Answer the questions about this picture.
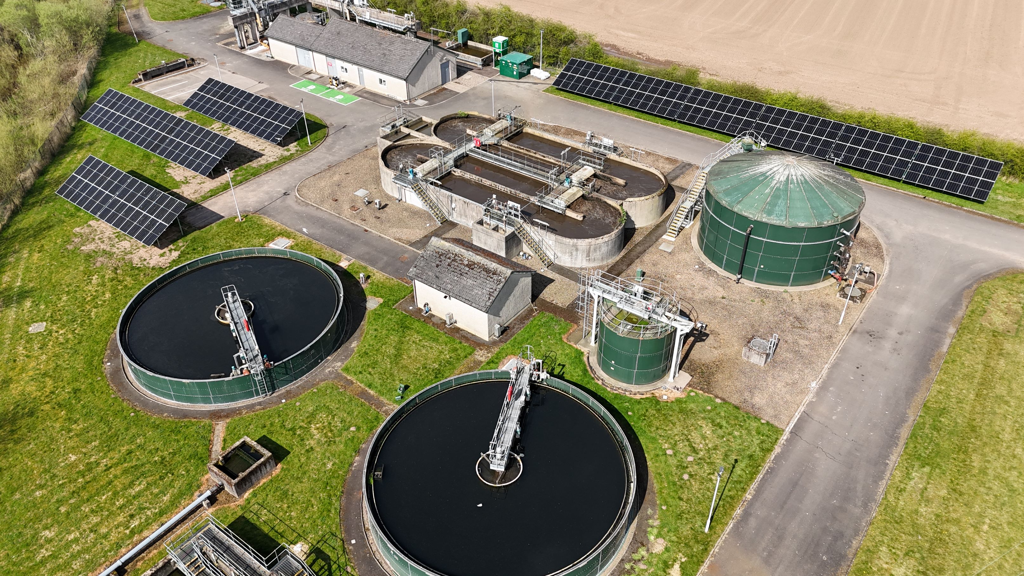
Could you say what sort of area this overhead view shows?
industrial area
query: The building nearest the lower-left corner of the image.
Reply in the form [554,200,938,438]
[408,236,538,341]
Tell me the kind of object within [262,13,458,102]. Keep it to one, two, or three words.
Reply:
building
